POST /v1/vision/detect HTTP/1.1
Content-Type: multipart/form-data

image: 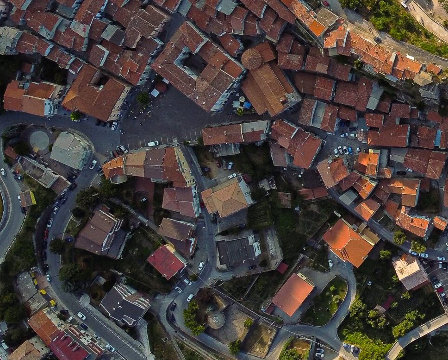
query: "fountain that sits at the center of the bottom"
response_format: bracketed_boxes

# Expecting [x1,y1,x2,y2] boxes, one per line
[207,311,226,330]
